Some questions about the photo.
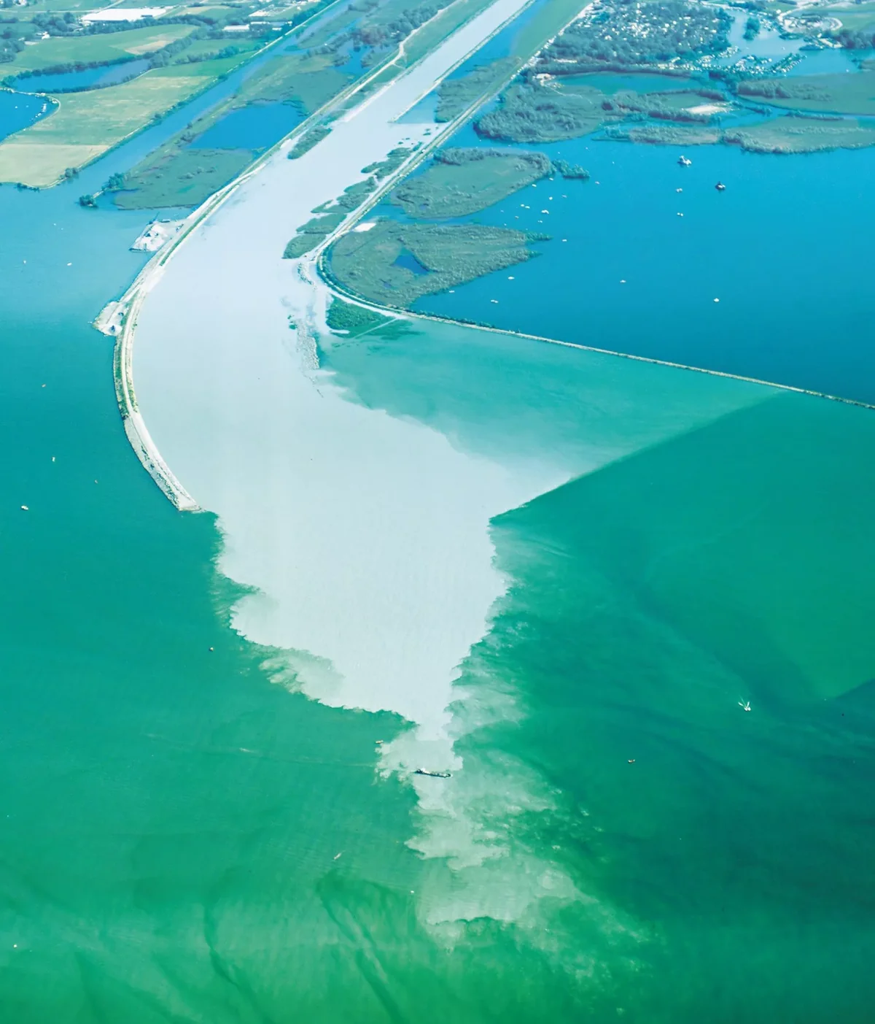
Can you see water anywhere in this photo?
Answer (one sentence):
Yes, there is water in the image.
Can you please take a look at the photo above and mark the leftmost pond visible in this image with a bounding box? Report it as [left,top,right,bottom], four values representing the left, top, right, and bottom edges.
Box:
[14,58,151,92]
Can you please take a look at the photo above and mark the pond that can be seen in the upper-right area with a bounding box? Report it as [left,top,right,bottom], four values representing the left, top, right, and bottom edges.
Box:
[557,70,722,96]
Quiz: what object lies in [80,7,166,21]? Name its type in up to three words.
greenhouse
